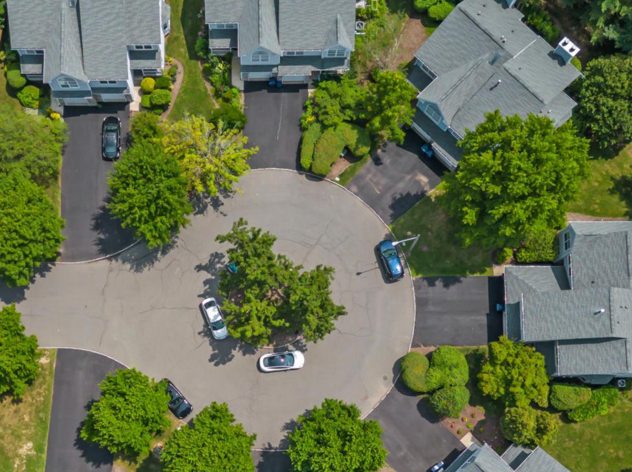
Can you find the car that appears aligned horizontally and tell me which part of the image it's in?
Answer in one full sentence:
The car that appears aligned horizontally sits in the bottom section of the image.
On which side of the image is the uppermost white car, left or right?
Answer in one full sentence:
It is on the left.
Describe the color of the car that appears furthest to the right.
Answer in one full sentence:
The car that appears furthest to the right looks blue in the image.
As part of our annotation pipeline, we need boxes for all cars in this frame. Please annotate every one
[377,241,405,281]
[259,351,305,372]
[160,377,196,419]
[101,117,120,159]
[200,296,227,340]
